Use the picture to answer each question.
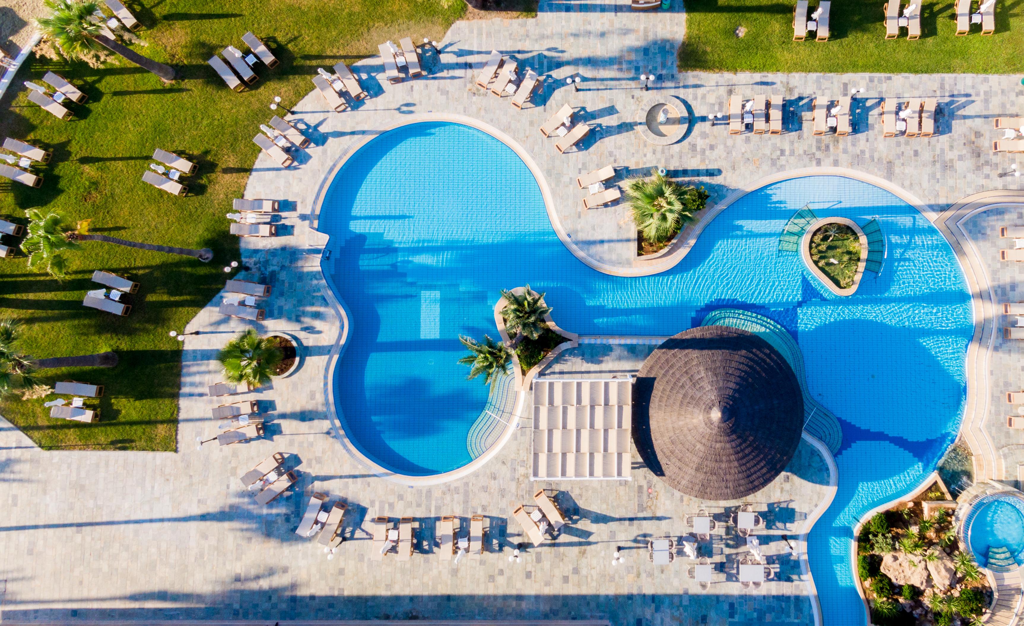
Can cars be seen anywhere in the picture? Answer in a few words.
No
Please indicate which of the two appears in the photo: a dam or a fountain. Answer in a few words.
fountain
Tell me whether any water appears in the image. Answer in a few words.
Yes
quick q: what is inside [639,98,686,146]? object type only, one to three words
fountain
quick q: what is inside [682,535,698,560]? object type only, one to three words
umbrella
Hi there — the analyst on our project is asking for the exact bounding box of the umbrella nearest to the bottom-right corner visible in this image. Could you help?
[742,535,763,561]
